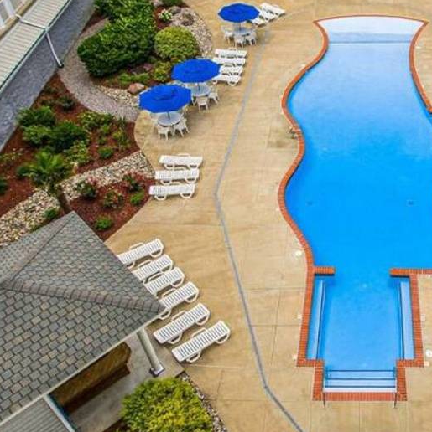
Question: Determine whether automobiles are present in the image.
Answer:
No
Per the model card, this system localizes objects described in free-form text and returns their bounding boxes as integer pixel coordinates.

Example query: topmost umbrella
[218,2,260,33]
